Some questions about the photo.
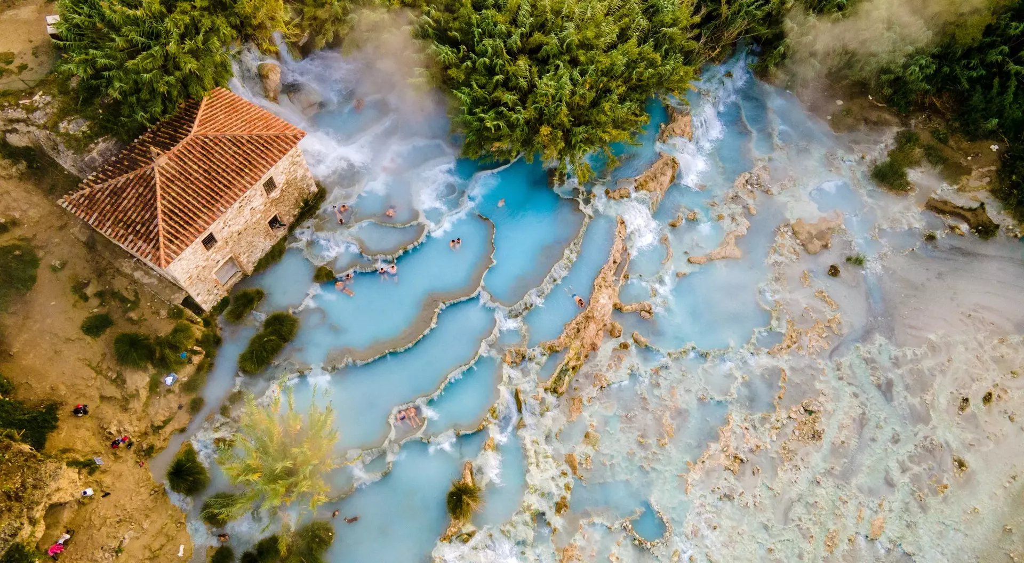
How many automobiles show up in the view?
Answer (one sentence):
No automobiles are visible.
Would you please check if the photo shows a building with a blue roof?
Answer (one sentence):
No, there's no building with a blue roof here.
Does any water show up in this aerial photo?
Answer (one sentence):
Yes, there is water in the image.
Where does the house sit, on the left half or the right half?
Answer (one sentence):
The house is on the left side of the image.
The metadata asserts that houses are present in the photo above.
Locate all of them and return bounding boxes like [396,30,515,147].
[55,84,318,308]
